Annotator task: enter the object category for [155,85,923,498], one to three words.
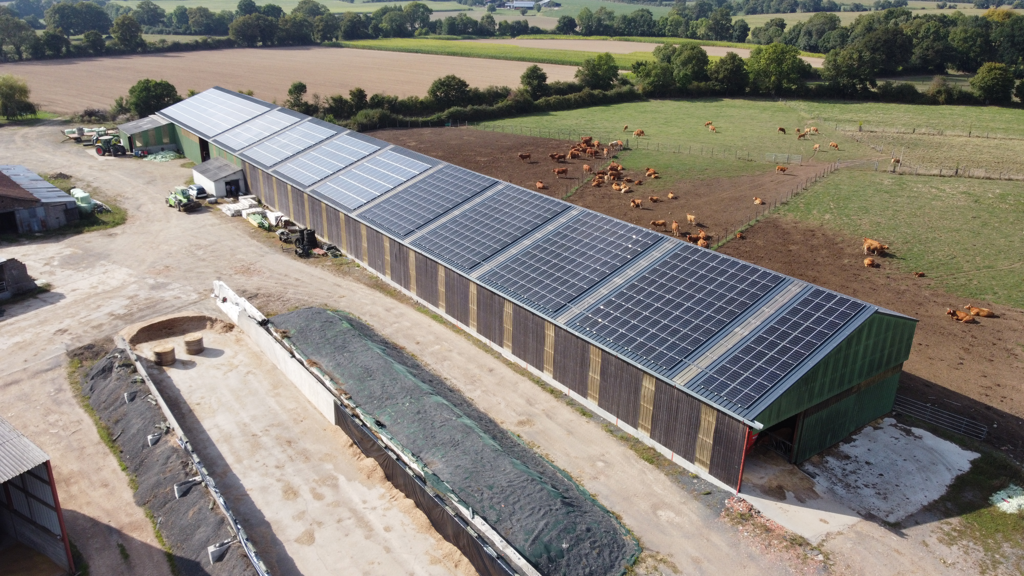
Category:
barn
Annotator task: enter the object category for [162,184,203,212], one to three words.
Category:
work vehicle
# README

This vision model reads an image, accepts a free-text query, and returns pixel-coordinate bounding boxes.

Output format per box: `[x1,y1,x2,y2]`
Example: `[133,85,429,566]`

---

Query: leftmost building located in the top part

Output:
[0,166,86,235]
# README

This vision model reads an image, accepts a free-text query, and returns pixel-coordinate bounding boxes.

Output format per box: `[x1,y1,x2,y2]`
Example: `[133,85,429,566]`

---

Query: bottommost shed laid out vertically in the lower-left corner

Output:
[0,419,79,576]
